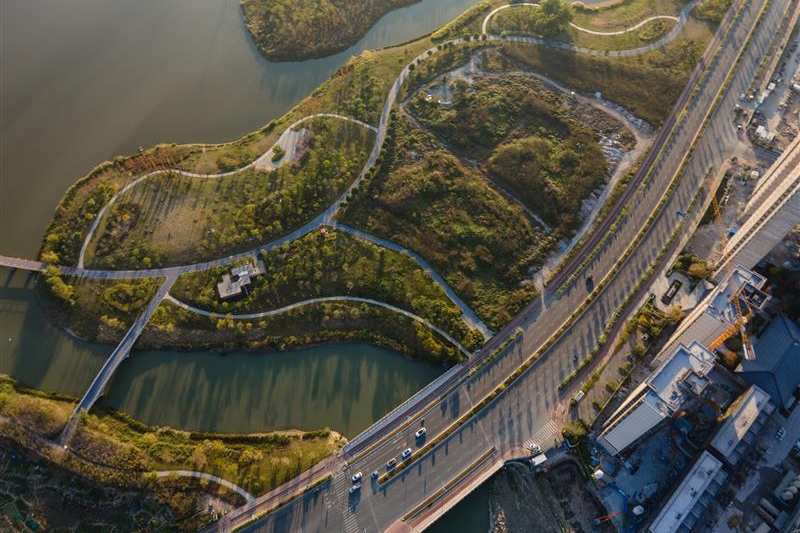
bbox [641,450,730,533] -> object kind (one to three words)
building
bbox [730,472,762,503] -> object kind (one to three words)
shed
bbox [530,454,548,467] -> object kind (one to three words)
vehicle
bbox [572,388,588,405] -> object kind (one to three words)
vehicle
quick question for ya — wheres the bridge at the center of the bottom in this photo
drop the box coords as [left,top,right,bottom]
[339,365,504,533]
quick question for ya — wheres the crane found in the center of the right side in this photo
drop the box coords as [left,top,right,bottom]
[709,284,759,363]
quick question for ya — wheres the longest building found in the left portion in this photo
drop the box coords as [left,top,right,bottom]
[217,261,268,301]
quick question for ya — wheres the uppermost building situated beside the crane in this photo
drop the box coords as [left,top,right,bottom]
[711,130,800,278]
